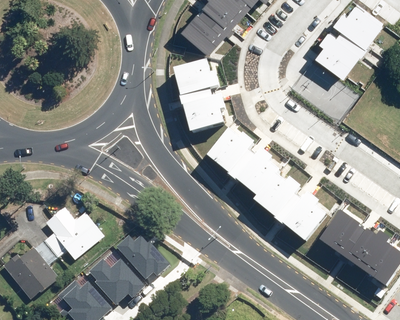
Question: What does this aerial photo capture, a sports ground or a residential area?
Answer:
residential area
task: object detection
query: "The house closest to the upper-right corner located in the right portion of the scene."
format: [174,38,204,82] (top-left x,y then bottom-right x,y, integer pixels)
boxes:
[334,4,384,52]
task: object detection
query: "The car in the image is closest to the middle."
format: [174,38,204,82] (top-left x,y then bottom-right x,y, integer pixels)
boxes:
[268,116,283,133]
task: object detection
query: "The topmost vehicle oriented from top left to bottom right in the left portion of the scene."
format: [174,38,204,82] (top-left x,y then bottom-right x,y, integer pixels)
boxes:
[75,162,92,175]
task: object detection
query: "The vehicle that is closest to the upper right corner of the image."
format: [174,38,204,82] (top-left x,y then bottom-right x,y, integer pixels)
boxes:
[371,1,385,15]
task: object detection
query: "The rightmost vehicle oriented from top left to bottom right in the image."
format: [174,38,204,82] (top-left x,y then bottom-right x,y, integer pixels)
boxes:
[345,133,363,148]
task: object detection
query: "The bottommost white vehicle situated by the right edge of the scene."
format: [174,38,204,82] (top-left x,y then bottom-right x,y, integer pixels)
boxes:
[388,197,400,215]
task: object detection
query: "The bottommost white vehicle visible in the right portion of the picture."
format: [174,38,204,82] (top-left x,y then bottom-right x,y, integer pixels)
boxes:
[259,284,274,298]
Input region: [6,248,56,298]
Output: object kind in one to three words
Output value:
house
